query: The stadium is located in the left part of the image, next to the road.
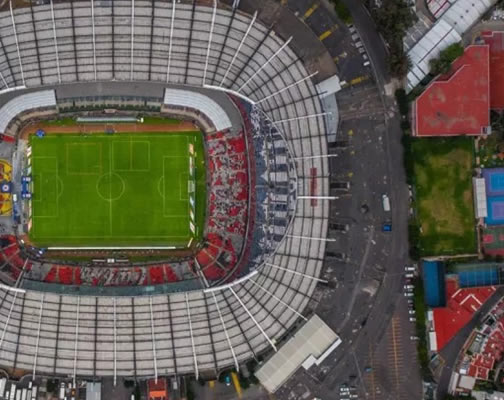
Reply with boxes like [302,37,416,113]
[0,0,338,385]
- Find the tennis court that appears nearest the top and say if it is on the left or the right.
right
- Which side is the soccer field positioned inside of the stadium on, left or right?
left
